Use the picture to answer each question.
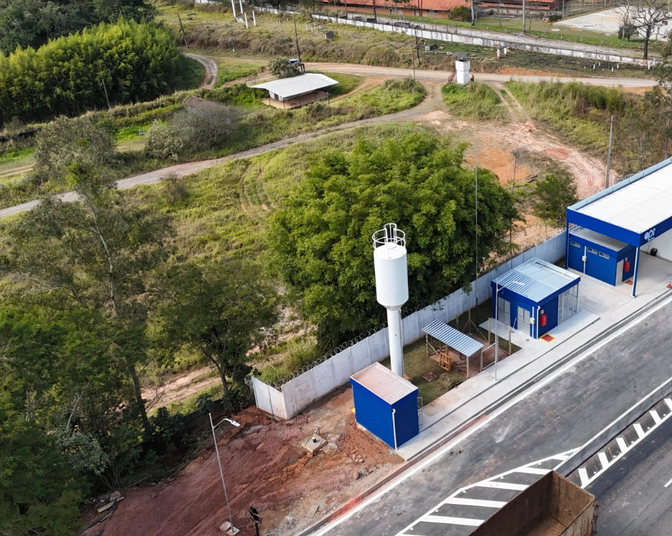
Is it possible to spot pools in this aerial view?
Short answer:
No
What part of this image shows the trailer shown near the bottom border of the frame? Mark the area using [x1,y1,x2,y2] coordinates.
[468,468,597,536]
